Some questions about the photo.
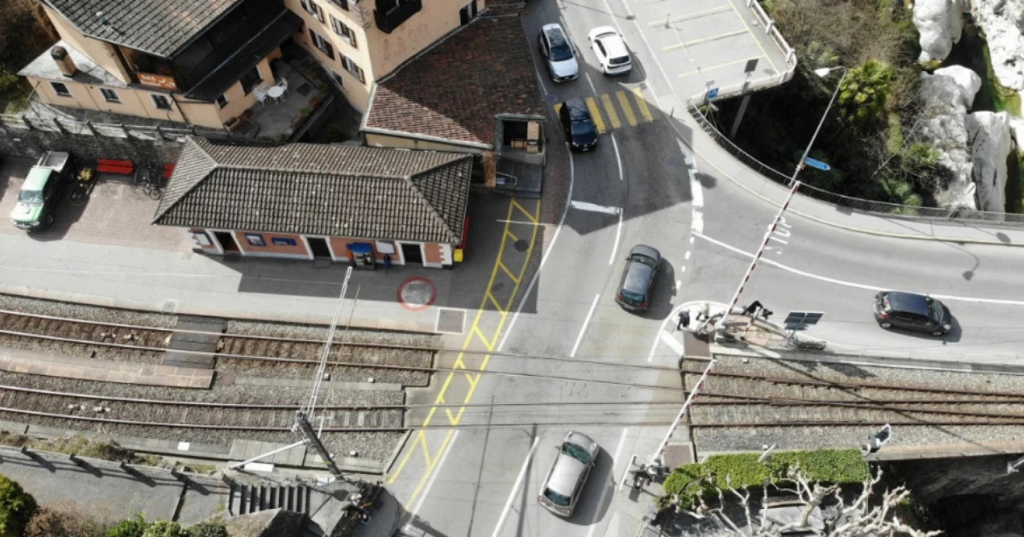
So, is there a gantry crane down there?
No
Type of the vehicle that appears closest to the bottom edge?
automobile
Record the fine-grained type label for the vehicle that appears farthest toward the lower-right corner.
car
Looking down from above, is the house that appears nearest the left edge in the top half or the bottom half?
top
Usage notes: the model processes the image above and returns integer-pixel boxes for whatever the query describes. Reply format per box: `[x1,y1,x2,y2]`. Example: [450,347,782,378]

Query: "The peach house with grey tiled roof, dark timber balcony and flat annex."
[11,0,299,128]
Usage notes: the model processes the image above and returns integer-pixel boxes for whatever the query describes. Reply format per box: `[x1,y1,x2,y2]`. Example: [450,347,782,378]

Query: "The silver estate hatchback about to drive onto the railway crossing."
[539,426,602,519]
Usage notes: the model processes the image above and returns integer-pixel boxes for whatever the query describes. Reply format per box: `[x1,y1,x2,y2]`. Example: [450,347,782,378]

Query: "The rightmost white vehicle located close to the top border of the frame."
[591,20,636,75]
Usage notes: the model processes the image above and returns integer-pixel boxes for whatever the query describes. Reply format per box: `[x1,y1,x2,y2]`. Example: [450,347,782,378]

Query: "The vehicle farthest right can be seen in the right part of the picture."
[874,287,955,335]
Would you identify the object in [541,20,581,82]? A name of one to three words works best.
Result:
car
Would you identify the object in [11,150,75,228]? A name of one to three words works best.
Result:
vehicle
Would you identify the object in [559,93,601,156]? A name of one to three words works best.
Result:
car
